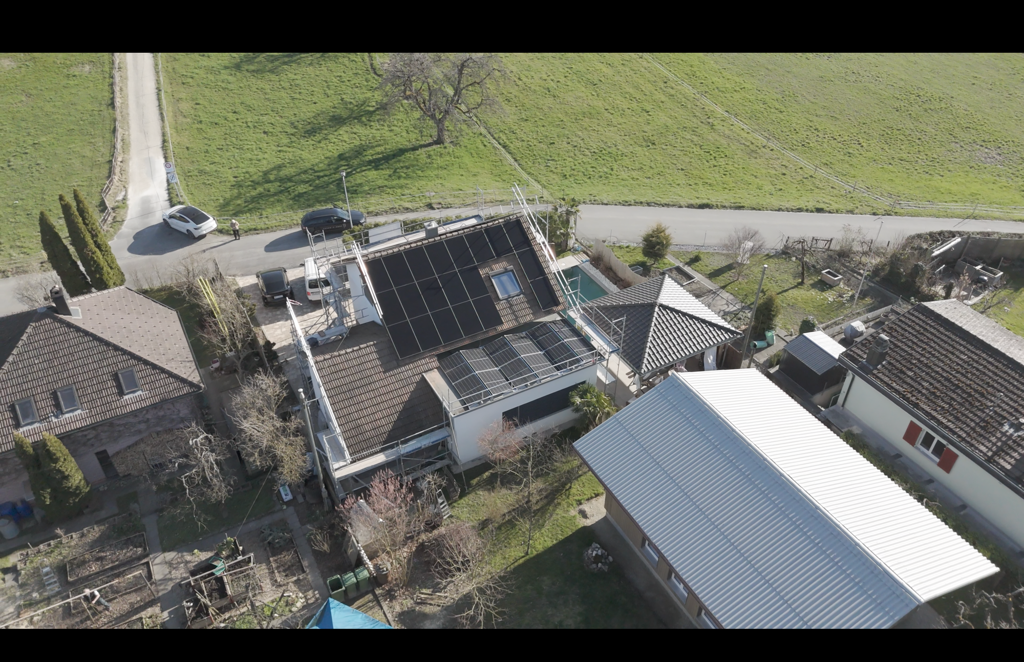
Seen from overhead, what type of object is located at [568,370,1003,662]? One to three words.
shed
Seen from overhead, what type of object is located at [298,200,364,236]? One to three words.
car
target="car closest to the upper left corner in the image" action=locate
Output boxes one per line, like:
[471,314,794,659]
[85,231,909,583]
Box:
[160,207,216,240]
